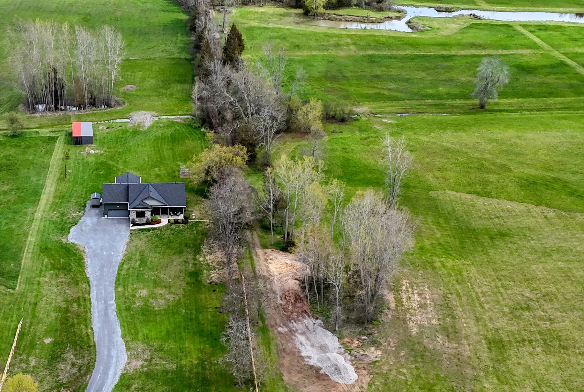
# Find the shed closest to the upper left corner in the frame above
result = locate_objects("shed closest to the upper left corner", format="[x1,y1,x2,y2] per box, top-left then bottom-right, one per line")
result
[72,122,94,144]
